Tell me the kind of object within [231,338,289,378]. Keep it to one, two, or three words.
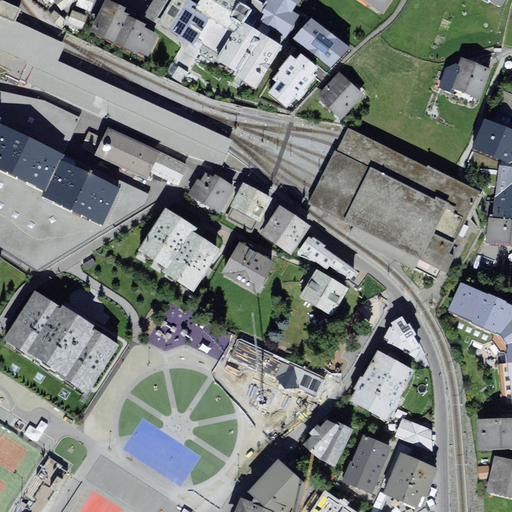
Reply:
building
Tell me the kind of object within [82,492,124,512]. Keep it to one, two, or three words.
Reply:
sports court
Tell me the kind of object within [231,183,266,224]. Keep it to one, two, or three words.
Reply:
house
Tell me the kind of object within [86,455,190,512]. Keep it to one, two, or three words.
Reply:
sports court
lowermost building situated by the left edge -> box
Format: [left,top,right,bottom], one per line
[14,458,64,512]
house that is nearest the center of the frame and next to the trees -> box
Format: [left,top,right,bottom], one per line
[223,242,274,294]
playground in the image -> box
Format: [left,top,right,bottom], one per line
[147,303,233,359]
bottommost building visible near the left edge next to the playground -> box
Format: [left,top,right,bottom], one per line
[5,291,118,394]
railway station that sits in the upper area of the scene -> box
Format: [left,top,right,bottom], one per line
[0,16,232,166]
